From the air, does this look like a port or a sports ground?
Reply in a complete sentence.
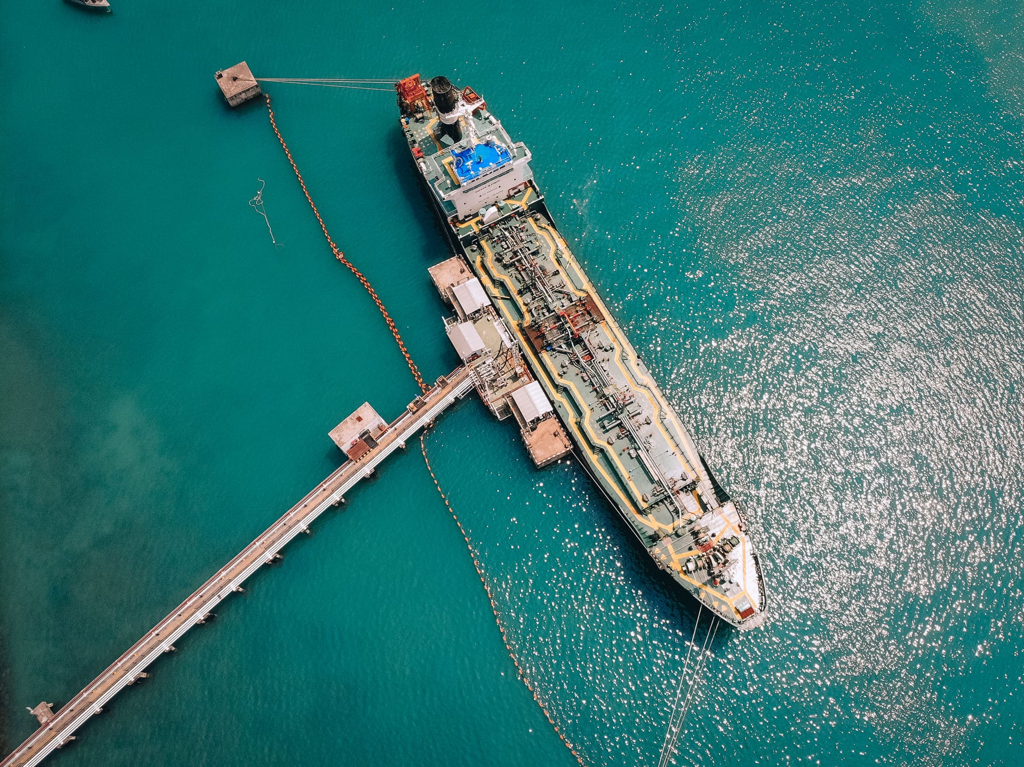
This looks like a port.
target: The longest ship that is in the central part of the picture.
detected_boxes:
[394,66,769,639]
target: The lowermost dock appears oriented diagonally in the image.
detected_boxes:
[0,358,495,767]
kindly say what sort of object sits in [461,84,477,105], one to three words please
boat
